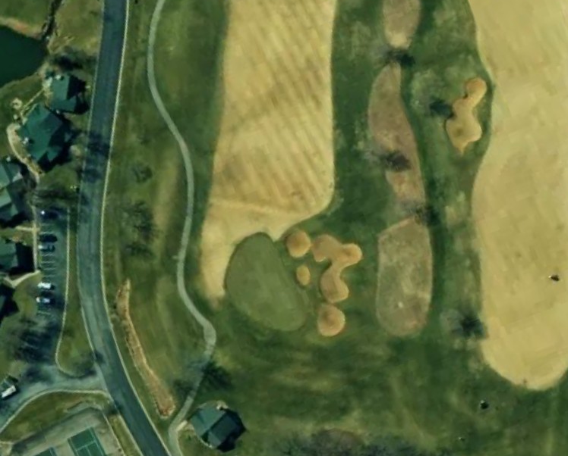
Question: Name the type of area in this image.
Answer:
golf course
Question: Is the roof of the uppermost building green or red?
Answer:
green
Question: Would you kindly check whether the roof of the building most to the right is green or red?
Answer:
green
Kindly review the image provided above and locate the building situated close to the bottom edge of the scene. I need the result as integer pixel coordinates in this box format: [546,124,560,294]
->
[185,404,237,456]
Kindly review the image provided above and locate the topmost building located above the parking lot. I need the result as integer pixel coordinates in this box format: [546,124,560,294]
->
[45,75,87,114]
